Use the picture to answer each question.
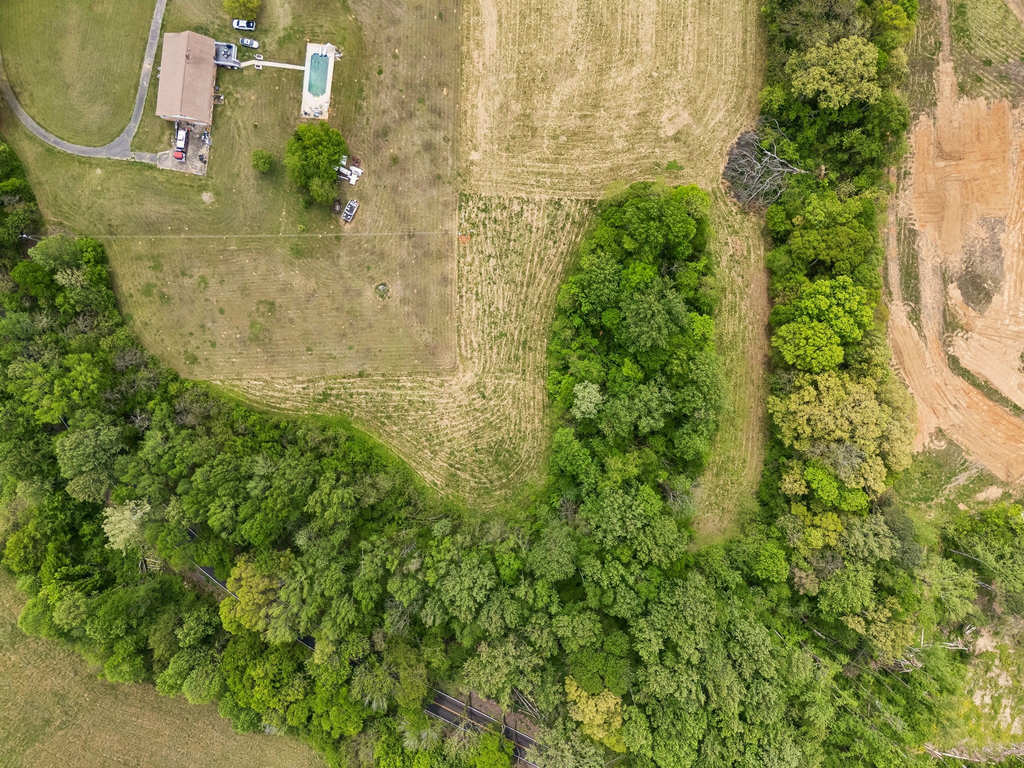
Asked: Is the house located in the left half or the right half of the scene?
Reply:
left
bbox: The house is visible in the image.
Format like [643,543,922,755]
[156,32,217,125]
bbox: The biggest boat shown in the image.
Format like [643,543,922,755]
[341,200,359,222]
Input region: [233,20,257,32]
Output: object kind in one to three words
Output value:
vehicle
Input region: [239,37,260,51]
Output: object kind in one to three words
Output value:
car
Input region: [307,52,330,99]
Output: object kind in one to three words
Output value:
swimming pool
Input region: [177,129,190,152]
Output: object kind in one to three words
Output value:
vehicle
